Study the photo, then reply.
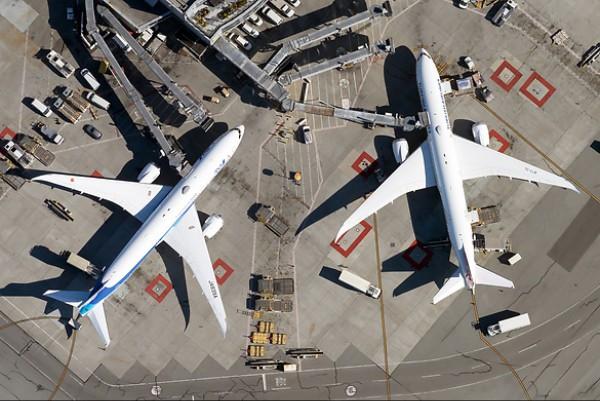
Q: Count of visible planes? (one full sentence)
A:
I count 2 planes.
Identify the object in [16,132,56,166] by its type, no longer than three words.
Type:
work vehicle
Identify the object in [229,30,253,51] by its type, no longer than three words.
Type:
car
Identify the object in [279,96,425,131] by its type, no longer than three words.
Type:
jet bridge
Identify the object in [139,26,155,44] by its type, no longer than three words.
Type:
vehicle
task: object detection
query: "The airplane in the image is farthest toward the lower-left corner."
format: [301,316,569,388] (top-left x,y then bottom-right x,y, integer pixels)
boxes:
[32,125,244,351]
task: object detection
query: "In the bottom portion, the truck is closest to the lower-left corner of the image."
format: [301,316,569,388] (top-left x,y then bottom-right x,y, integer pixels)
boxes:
[63,254,97,279]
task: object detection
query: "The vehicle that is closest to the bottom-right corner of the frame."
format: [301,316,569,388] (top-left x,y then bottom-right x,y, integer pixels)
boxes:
[486,313,531,337]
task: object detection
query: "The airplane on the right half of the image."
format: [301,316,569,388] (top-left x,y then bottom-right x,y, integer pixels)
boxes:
[335,49,582,308]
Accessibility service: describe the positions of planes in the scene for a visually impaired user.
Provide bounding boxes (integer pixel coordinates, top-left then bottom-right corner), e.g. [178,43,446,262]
[335,49,582,308]
[32,125,244,351]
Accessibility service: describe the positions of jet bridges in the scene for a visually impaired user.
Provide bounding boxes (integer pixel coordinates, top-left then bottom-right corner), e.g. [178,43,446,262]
[275,38,393,89]
[261,0,390,75]
[93,0,214,130]
[279,96,425,131]
[83,0,193,174]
